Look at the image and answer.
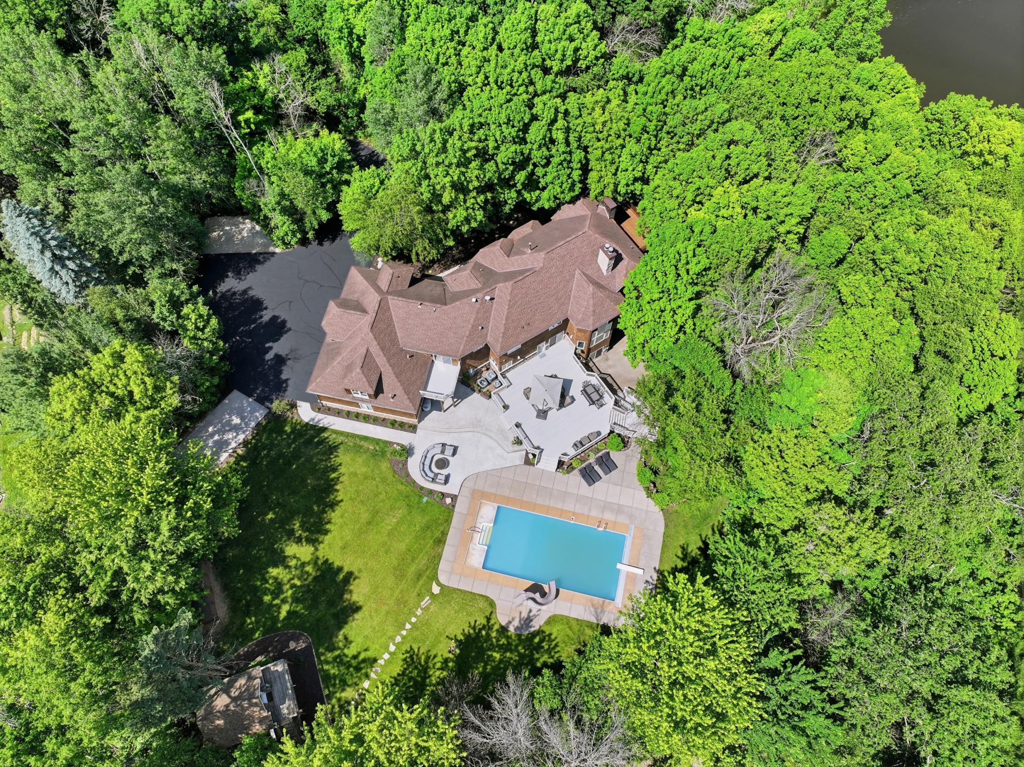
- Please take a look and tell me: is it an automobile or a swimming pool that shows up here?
swimming pool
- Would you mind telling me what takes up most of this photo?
trees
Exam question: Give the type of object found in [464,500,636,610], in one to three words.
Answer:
swimming pool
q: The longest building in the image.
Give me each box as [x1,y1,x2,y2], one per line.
[306,195,645,424]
